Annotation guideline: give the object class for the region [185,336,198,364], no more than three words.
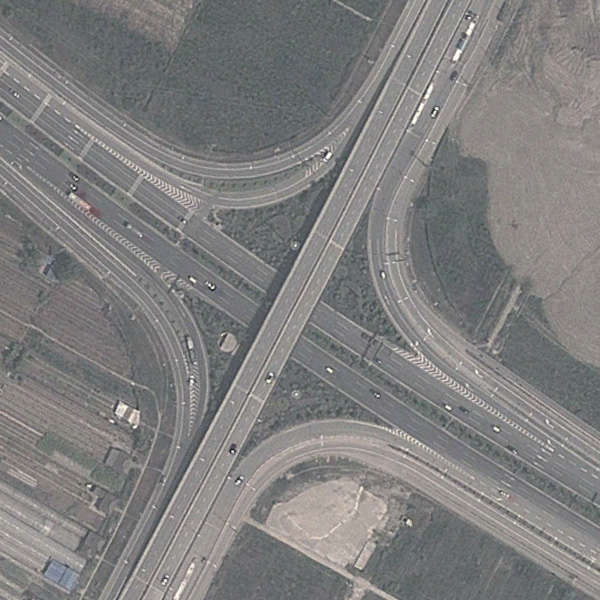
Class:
vehicle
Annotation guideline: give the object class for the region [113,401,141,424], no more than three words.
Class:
house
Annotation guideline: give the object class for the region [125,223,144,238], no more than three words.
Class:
vehicle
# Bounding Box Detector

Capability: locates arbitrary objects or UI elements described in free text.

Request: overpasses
[120,0,473,600]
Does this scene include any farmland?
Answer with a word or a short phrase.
Yes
